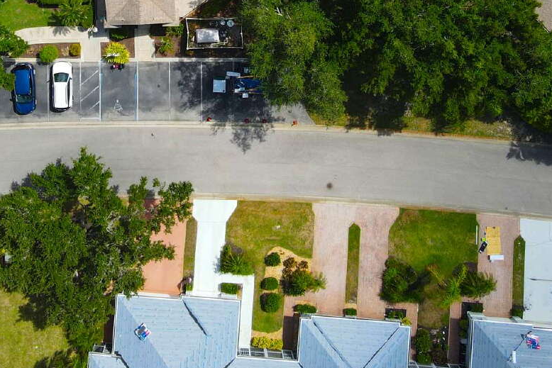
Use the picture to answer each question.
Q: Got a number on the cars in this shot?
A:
2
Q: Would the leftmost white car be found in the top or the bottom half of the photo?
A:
top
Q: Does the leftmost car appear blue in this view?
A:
Yes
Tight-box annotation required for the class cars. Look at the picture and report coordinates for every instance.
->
[10,62,35,114]
[48,59,73,112]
